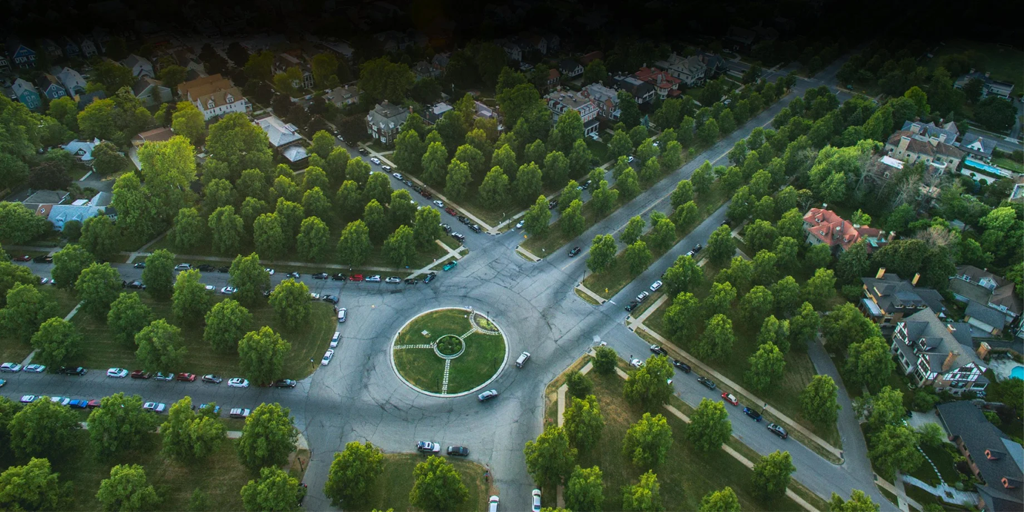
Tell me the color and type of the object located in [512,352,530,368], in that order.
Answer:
white car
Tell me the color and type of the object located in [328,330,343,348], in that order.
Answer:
white car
